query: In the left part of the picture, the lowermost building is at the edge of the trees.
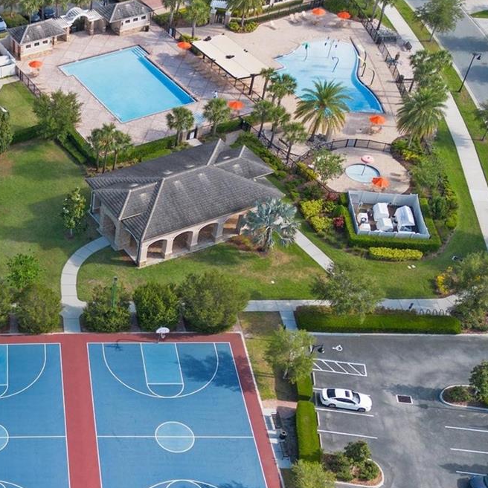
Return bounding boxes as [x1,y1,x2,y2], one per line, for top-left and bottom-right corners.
[86,139,284,268]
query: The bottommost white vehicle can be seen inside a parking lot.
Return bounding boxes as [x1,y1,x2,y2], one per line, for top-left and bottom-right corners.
[320,386,373,410]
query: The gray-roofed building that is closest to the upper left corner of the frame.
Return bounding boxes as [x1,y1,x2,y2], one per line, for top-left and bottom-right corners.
[5,19,66,59]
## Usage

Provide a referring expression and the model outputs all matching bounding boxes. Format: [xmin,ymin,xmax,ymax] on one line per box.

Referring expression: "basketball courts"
[0,336,87,488]
[73,332,281,488]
